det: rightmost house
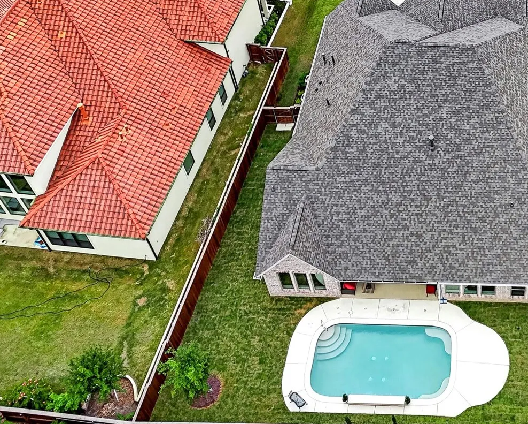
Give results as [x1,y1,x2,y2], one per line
[252,0,528,309]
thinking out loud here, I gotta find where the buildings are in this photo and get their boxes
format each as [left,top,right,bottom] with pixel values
[252,0,528,309]
[0,0,278,262]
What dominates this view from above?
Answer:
buildings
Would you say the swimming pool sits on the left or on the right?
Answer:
right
